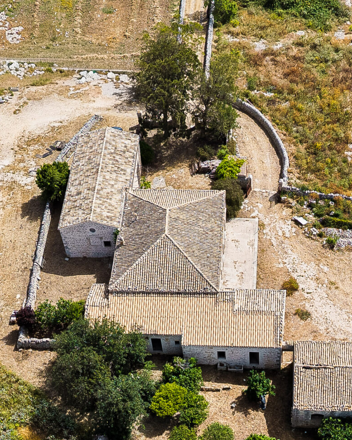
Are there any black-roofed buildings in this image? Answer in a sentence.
No, there is no black-roofed building in the image.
